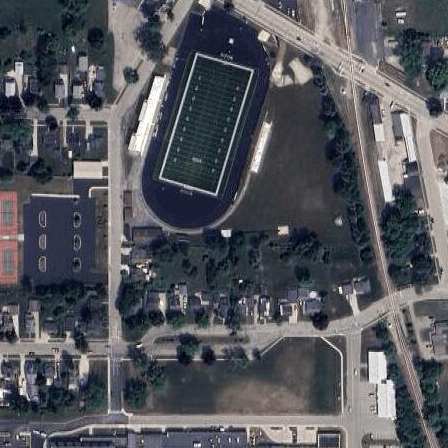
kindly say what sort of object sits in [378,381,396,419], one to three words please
building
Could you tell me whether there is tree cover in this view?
Yes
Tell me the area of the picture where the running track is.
top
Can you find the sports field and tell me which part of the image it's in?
top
